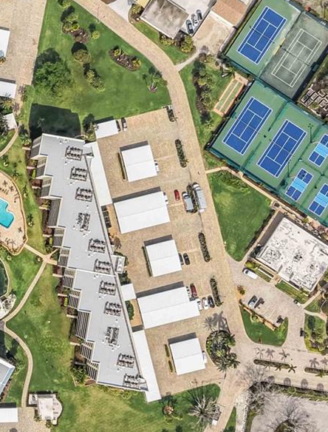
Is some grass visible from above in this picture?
Yes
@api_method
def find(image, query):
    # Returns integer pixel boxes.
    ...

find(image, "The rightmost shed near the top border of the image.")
[209,0,247,28]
